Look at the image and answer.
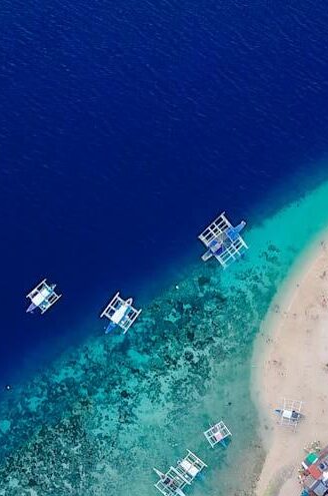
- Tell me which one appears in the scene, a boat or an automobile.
boat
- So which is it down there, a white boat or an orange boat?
white boat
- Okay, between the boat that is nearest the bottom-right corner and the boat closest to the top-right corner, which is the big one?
the boat closest to the top-right corner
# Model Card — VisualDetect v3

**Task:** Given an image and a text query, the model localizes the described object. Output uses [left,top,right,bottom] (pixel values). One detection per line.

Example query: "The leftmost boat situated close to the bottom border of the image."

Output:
[152,466,189,496]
